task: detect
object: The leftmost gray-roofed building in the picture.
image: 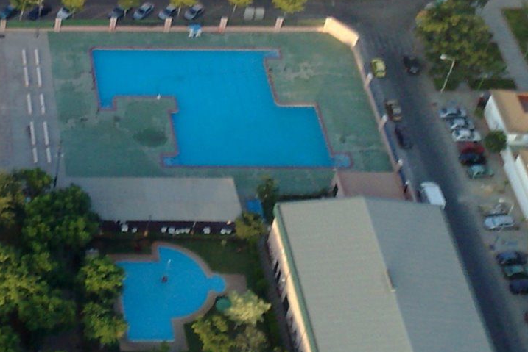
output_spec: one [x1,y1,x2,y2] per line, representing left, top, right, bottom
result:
[61,177,245,235]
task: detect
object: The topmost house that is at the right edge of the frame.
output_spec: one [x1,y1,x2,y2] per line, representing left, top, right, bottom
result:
[487,90,528,150]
